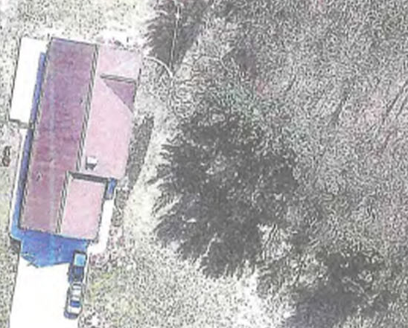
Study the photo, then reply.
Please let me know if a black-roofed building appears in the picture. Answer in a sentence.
No, the photo shows no black-roofed building.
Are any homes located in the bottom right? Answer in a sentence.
No, in the bottom right there is no home.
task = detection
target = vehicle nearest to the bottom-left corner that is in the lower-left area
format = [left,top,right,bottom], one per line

[66,281,83,319]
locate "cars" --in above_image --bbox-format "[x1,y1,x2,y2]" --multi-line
[69,251,86,283]
[66,281,83,319]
